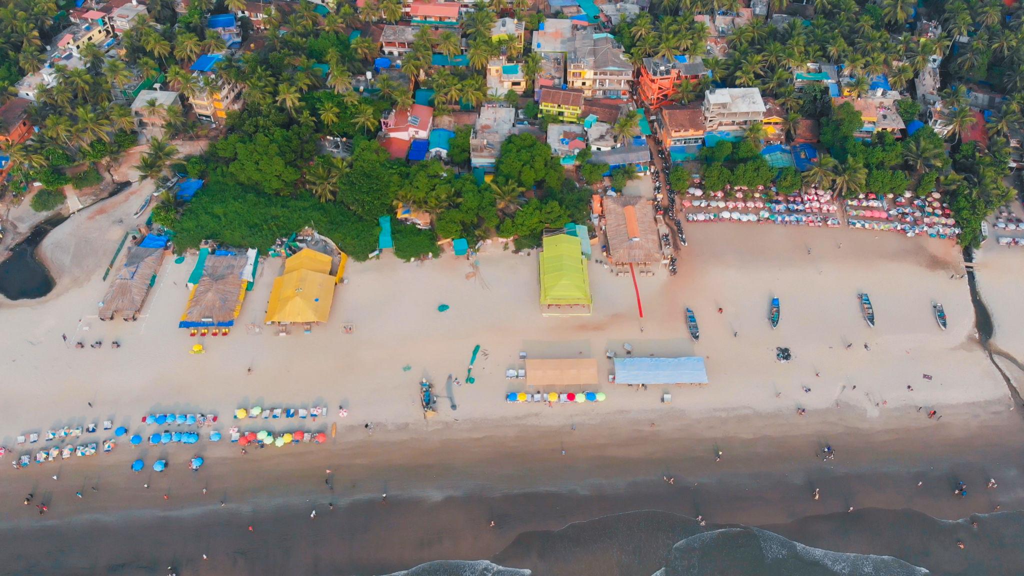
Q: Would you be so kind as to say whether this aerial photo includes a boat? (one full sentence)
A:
Yes, there's a boat here.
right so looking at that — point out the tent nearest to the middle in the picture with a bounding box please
[539,235,593,316]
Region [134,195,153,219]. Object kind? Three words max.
boat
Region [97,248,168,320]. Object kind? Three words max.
shed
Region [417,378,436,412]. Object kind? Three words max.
boat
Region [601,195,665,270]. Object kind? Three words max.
building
